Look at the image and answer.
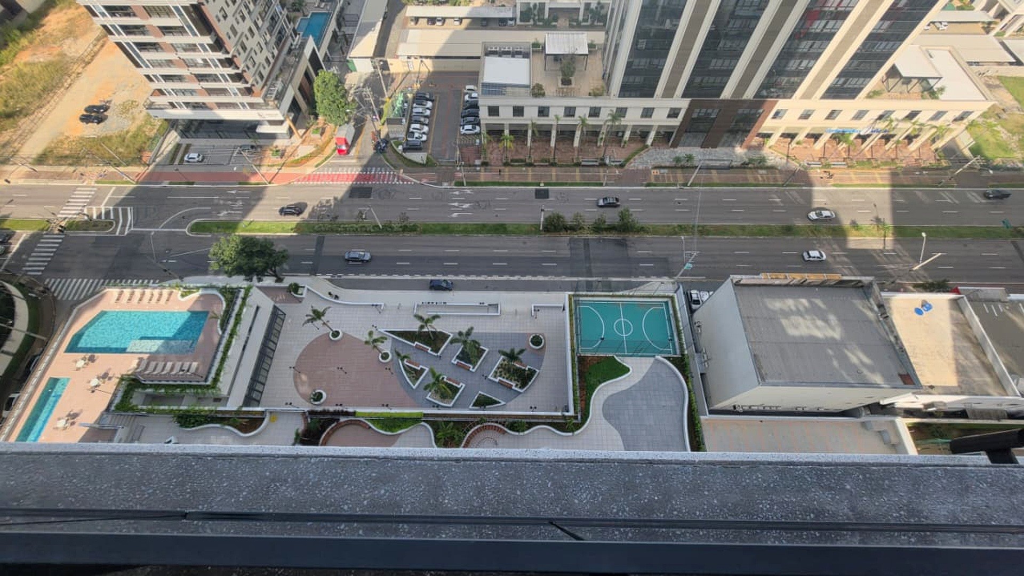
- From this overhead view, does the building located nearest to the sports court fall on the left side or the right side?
right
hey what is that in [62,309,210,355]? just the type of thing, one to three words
swimming pool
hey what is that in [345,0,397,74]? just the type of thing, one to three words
building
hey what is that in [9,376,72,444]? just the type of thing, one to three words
swimming pool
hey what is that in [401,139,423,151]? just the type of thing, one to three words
vehicle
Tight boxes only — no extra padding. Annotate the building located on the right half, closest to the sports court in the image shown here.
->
[694,270,923,409]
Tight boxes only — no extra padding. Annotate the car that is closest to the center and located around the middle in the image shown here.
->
[429,279,453,291]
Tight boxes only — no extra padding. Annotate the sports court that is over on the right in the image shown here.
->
[576,301,680,356]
